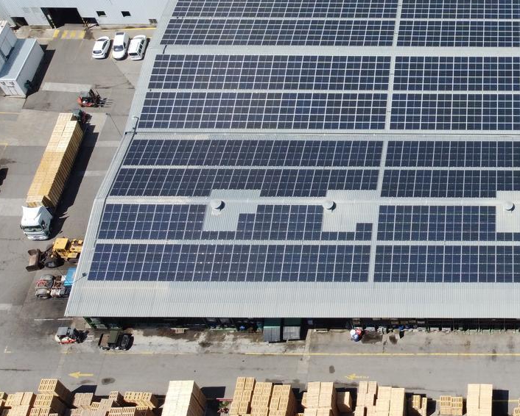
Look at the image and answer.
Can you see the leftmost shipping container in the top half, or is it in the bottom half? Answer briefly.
top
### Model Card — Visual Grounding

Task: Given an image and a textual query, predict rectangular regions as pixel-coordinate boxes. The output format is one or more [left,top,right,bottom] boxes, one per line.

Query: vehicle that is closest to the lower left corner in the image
[48,324,90,345]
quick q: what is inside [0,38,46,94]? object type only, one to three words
shipping container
